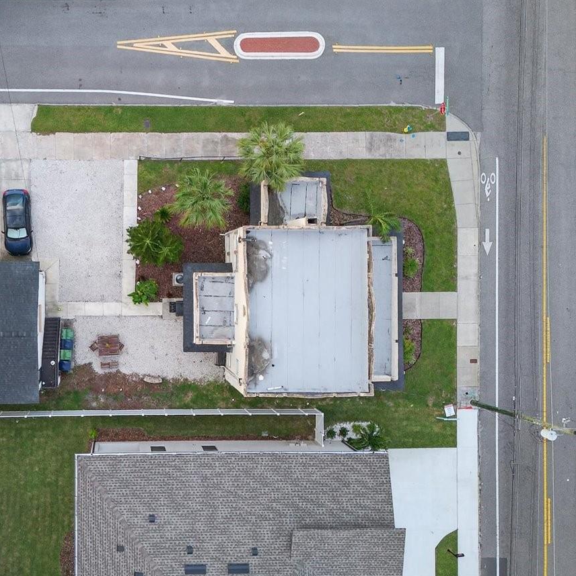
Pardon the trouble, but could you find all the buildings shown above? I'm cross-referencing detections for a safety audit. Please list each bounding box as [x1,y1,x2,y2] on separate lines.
[73,438,405,576]
[182,171,402,397]
[0,262,48,407]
